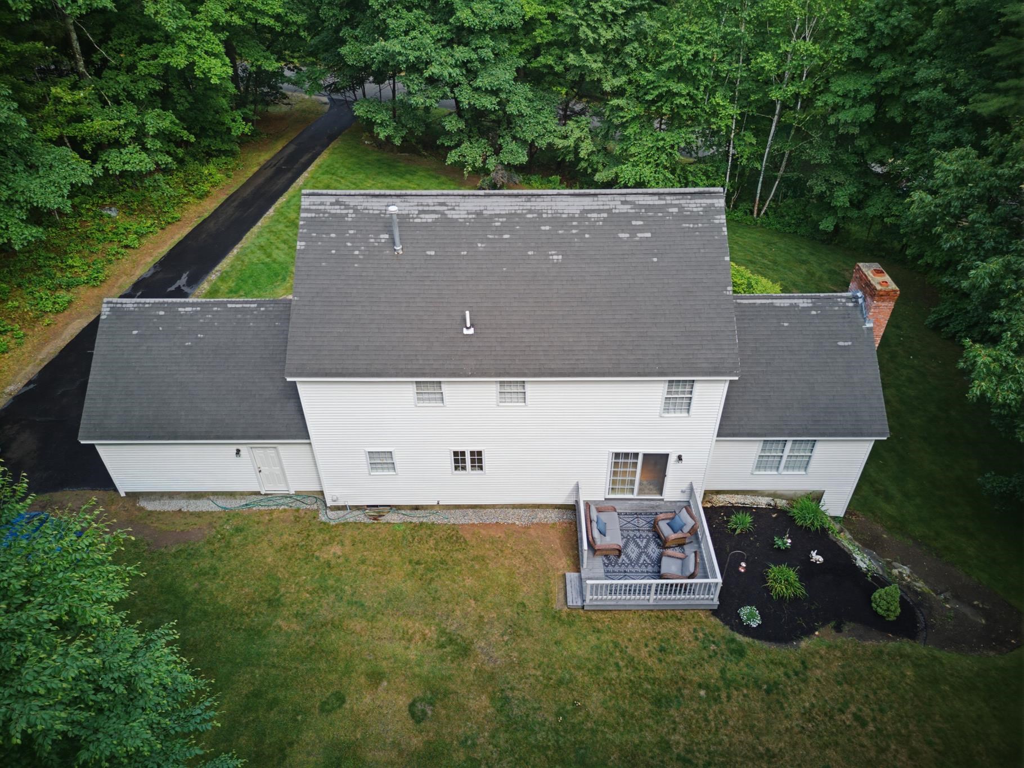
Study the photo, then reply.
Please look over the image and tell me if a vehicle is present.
No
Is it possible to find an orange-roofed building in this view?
No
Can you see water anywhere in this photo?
No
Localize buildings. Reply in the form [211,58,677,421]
[78,185,900,515]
